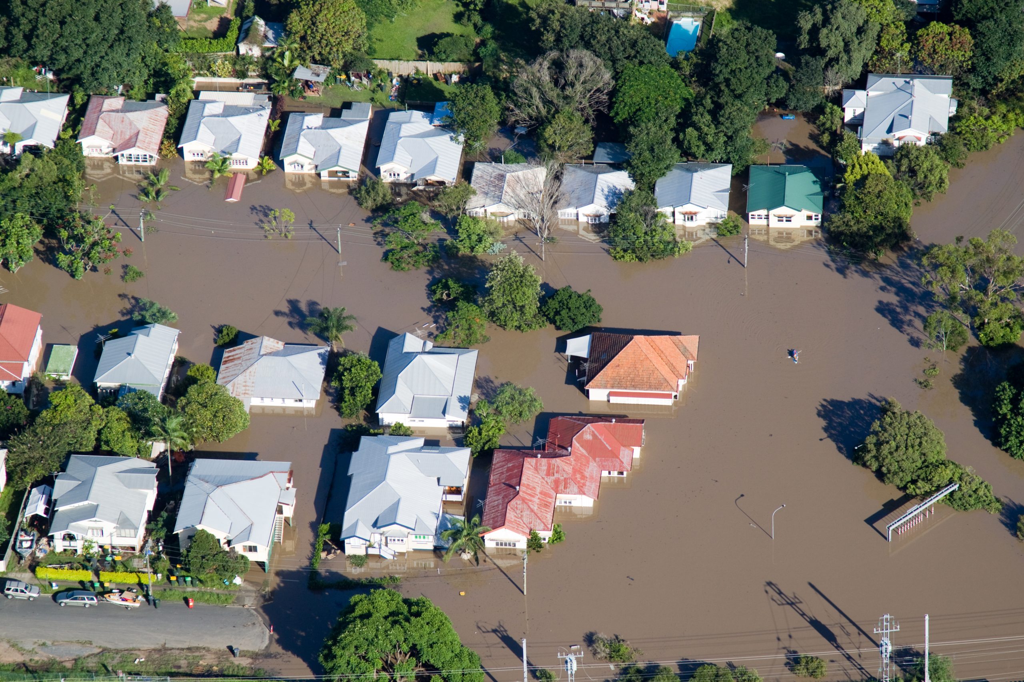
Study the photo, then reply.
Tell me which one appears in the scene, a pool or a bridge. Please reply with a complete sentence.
This aerial view contains a pool.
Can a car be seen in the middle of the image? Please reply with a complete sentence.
No, there is no car in the middle of the image.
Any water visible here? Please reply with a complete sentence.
Yes, there is water in the image.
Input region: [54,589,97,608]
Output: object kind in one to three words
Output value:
car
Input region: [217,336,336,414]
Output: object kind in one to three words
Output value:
house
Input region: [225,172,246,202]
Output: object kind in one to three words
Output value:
shed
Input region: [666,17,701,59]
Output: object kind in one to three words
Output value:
swimming pool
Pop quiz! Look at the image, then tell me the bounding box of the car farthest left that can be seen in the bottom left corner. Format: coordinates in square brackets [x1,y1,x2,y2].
[2,579,41,601]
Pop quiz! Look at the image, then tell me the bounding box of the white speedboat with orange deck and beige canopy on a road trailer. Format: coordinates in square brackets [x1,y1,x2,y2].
[103,588,143,606]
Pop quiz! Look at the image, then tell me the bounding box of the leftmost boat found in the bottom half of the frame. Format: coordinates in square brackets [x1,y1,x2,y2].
[19,528,33,556]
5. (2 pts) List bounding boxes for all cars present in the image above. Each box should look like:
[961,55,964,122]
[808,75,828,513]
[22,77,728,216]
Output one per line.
[54,589,97,608]
[2,579,41,601]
